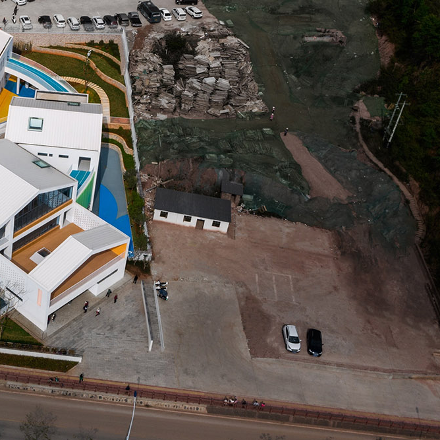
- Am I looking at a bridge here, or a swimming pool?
bridge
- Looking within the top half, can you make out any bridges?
Yes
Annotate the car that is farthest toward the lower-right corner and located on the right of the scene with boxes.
[306,328,323,355]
